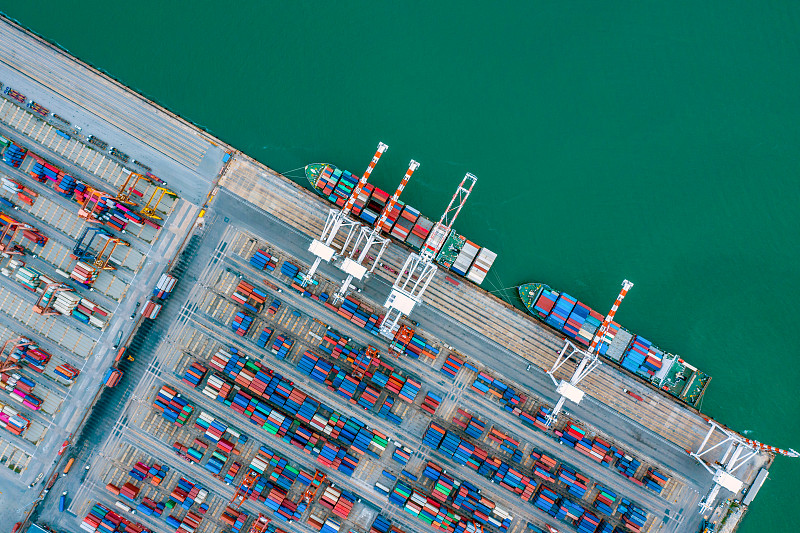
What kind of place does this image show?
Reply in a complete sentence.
It's a port.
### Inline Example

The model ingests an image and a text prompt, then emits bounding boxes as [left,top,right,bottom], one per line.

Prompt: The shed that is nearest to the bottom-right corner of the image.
[738,466,768,506]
